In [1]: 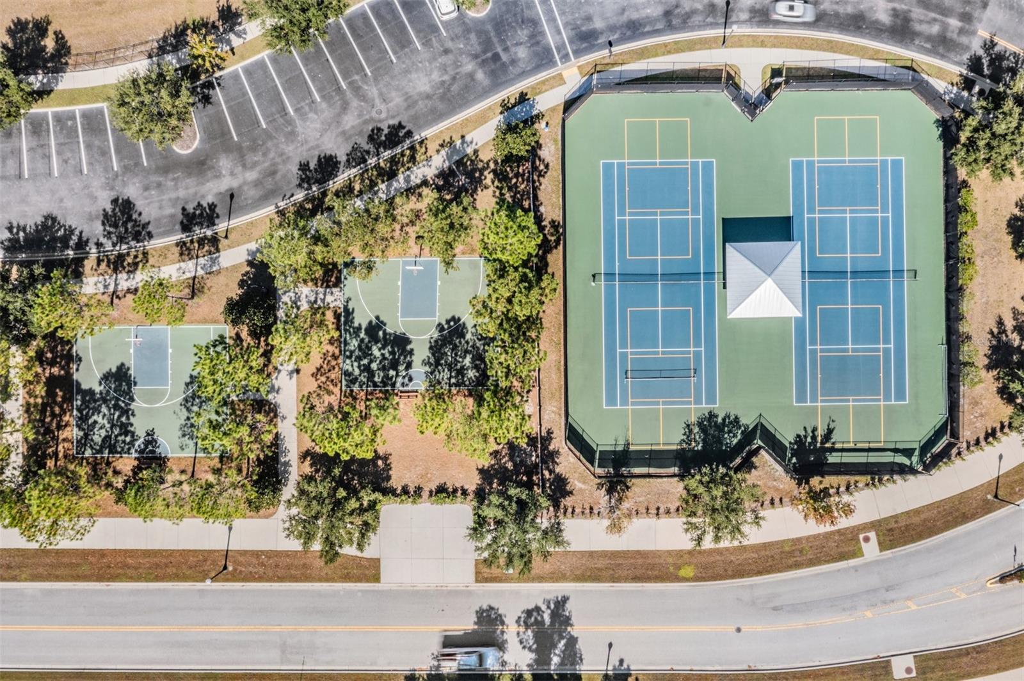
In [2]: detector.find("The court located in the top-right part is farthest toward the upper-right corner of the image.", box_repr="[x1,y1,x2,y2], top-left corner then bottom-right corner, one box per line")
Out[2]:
[815,116,881,256]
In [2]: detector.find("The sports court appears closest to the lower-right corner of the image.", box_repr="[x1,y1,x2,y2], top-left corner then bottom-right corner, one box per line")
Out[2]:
[817,305,884,446]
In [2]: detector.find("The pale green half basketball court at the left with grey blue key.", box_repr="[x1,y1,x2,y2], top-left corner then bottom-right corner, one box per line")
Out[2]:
[73,324,229,457]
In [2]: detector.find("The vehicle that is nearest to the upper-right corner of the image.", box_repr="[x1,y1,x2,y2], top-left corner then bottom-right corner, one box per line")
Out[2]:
[770,0,818,23]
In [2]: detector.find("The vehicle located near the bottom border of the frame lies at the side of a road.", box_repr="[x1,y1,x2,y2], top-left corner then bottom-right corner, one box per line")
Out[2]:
[434,645,498,674]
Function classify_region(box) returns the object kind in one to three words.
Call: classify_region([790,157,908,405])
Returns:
tennis court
